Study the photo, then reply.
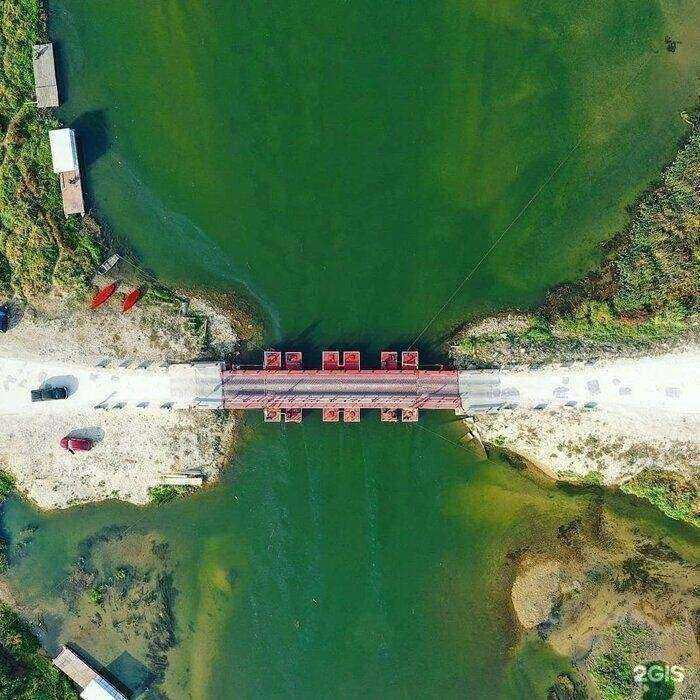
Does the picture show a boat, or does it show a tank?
boat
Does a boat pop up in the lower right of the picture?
No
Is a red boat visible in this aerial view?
Yes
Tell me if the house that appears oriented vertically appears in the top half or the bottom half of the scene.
top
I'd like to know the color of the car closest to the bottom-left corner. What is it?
red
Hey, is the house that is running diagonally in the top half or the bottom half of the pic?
bottom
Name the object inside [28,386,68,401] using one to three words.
vehicle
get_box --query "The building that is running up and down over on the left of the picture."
[50,122,86,218]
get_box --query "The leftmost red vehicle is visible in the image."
[59,435,93,457]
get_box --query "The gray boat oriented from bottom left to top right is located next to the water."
[96,252,118,275]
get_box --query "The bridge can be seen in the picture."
[221,351,461,422]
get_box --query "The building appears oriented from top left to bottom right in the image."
[50,641,120,700]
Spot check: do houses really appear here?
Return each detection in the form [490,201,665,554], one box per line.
[50,641,120,700]
[50,122,86,218]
